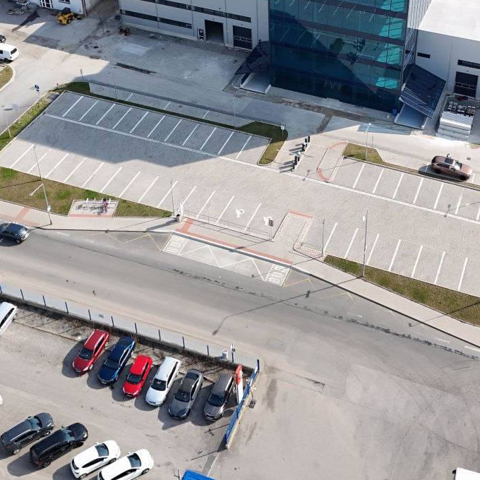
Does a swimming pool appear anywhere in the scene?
No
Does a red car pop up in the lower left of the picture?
Yes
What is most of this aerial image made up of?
paved ground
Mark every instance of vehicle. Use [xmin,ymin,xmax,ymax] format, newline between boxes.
[121,353,157,398]
[98,334,139,385]
[55,6,81,22]
[71,327,111,376]
[28,422,88,468]
[0,34,9,43]
[0,222,32,243]
[168,367,206,420]
[67,439,122,480]
[146,355,183,407]
[430,154,471,182]
[0,303,18,340]
[0,42,20,62]
[98,449,153,480]
[0,410,57,456]
[202,371,236,423]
